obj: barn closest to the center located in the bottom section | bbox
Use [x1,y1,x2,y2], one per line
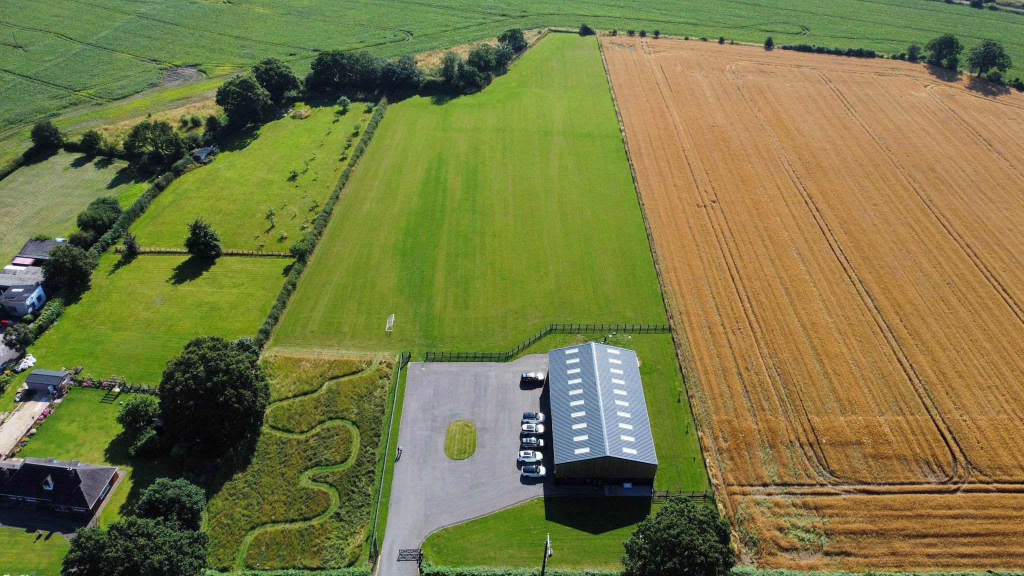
[548,345,658,482]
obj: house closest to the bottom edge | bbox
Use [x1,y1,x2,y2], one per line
[0,454,119,516]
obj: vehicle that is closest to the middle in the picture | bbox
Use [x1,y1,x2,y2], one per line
[521,373,544,385]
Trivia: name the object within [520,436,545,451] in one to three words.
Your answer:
car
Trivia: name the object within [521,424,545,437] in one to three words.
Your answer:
vehicle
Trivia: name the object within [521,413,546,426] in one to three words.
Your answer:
vehicle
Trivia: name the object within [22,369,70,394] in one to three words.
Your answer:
shed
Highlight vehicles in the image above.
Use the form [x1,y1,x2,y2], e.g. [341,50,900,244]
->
[518,451,542,464]
[520,436,545,451]
[520,465,547,479]
[521,424,545,437]
[521,373,544,385]
[521,413,546,426]
[0,320,15,329]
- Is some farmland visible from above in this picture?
Yes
